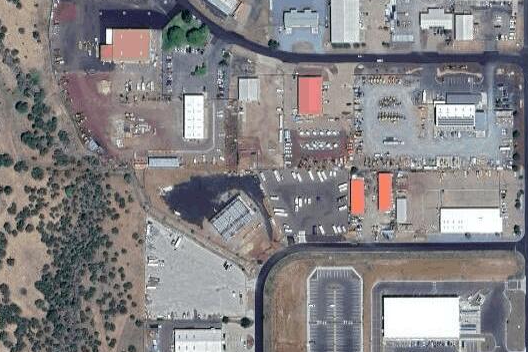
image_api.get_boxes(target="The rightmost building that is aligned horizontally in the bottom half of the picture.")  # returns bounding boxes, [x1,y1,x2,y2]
[441,208,501,233]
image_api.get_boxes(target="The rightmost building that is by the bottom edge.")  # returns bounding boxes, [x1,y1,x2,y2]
[384,296,461,337]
